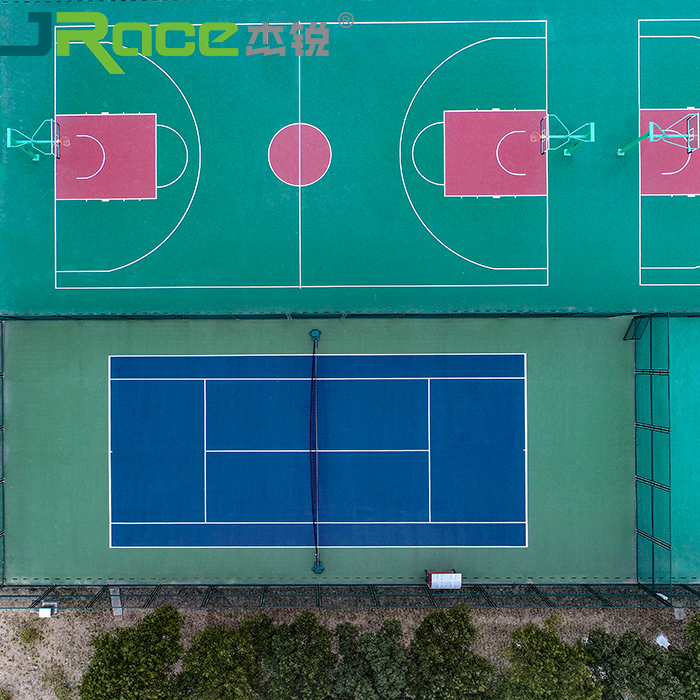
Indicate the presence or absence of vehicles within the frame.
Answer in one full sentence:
No, the photo shows no vehicle.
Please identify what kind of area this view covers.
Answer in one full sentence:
What you see here is a sports ground.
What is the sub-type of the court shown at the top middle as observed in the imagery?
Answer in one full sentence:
Looking closely, the court shown at the top middle is a basketball court.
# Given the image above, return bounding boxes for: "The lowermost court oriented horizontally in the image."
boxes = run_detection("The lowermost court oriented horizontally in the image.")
[0,315,637,586]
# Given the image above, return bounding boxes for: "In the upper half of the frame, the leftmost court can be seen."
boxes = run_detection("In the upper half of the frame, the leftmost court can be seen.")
[54,21,549,290]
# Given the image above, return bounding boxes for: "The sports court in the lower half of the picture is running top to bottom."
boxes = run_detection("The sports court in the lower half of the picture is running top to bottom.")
[636,317,700,584]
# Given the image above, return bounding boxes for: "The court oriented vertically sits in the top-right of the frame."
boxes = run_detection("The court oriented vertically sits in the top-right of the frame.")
[639,18,700,285]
